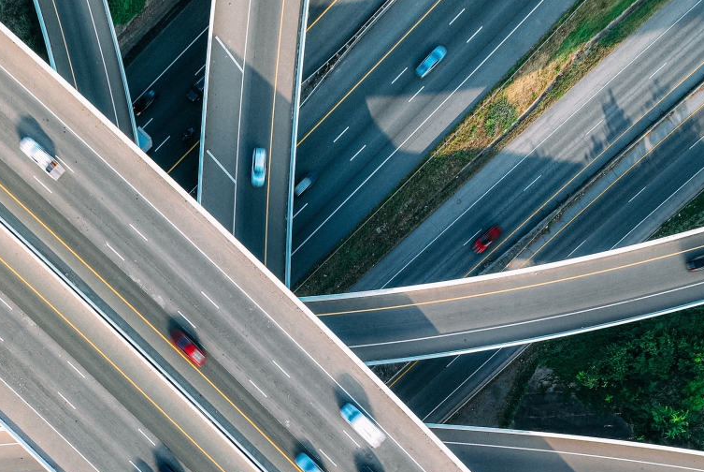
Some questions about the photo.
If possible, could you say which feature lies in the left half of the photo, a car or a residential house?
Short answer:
car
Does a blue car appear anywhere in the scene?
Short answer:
Yes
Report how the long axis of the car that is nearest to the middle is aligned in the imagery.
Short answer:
diagonally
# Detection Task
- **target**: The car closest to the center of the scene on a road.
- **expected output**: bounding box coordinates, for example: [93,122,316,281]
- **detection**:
[293,165,324,196]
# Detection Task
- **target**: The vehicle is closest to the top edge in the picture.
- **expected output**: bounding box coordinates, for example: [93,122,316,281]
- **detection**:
[414,44,446,76]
